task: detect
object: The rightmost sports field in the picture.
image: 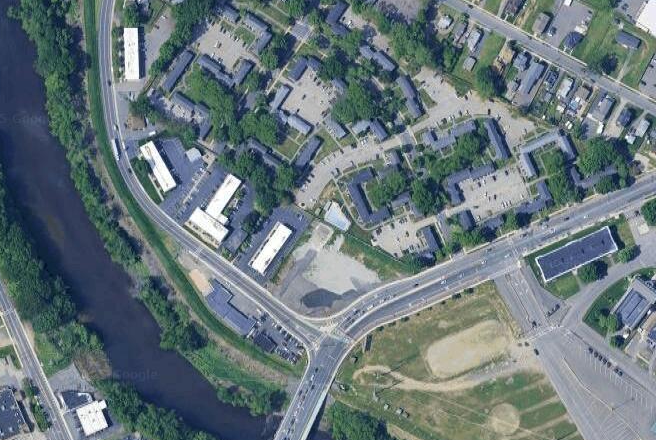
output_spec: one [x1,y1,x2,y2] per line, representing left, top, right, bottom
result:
[489,404,519,435]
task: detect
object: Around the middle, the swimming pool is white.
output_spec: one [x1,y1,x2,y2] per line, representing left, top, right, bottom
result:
[323,200,350,231]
